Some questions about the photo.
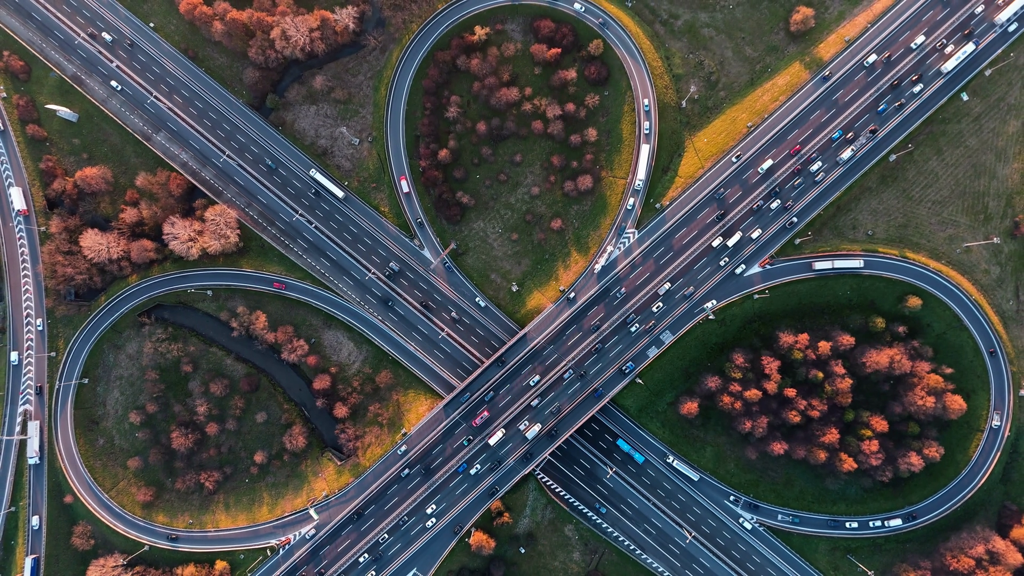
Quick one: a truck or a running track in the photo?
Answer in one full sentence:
Visible in the photo is a truck.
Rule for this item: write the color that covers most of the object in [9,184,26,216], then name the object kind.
white vehicle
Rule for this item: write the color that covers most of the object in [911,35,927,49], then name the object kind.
white vehicle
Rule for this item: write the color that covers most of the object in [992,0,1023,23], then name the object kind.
white truck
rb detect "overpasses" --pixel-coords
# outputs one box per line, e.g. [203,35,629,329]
[437,324,615,480]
